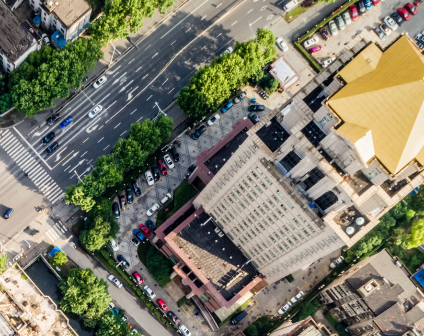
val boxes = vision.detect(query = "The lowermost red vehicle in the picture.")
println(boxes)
[156,297,169,312]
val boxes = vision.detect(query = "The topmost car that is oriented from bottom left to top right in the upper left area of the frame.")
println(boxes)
[93,75,108,88]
